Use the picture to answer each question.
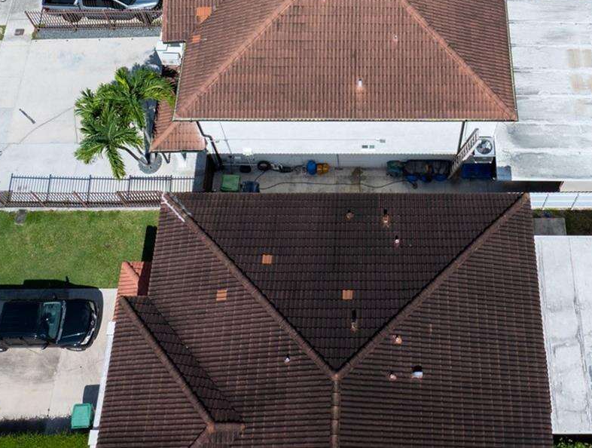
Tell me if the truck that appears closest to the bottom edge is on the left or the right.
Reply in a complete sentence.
You can find the truck that appears closest to the bottom edge on the left side of the picture.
